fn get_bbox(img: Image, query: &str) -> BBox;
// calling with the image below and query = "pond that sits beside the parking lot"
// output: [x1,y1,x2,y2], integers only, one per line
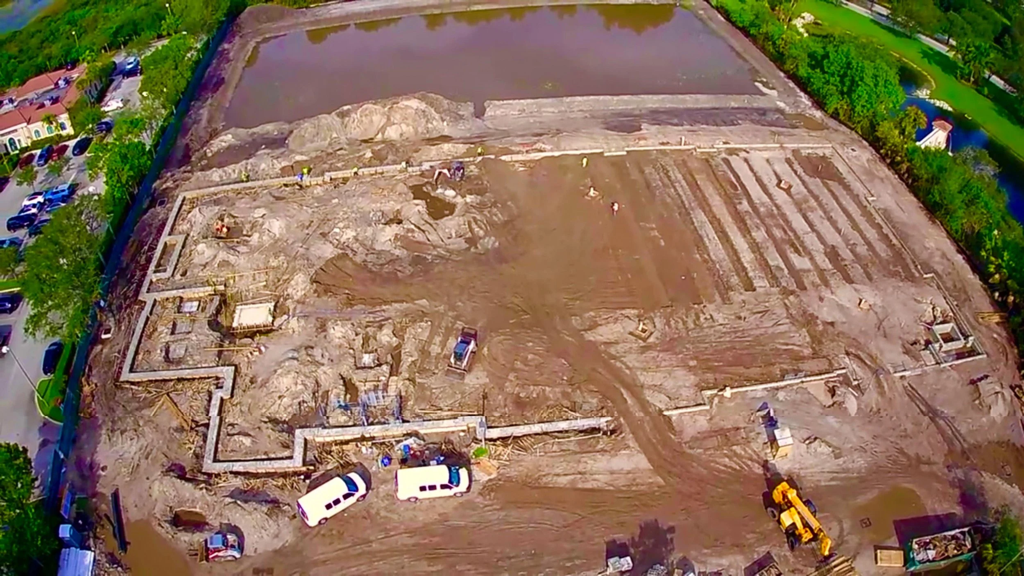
[221,4,770,130]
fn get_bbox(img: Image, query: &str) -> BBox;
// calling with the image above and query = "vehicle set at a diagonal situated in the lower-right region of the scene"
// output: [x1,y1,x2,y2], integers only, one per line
[763,485,838,574]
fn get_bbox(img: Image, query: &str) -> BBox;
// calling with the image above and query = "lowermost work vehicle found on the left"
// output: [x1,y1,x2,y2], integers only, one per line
[195,538,239,568]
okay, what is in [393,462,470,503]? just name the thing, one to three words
van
